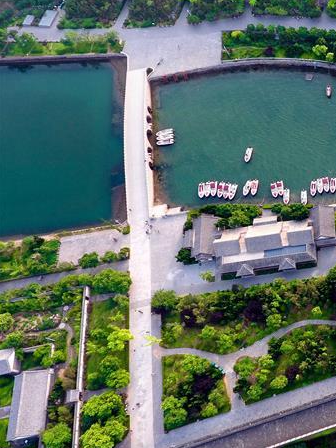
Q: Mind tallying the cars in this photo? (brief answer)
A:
0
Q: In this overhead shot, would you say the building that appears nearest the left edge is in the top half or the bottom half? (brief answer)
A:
bottom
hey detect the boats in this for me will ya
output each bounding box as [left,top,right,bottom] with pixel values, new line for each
[223,182,230,198]
[310,179,317,195]
[330,177,336,191]
[252,179,259,194]
[210,180,217,196]
[157,134,174,140]
[158,139,176,145]
[302,189,308,202]
[270,181,277,197]
[283,188,290,202]
[244,179,253,194]
[323,176,330,191]
[157,129,174,135]
[204,181,211,196]
[230,183,239,199]
[246,146,253,161]
[276,180,284,195]
[198,181,205,197]
[217,181,225,197]
[317,177,324,192]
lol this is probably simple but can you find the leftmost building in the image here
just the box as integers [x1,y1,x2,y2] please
[0,347,20,374]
